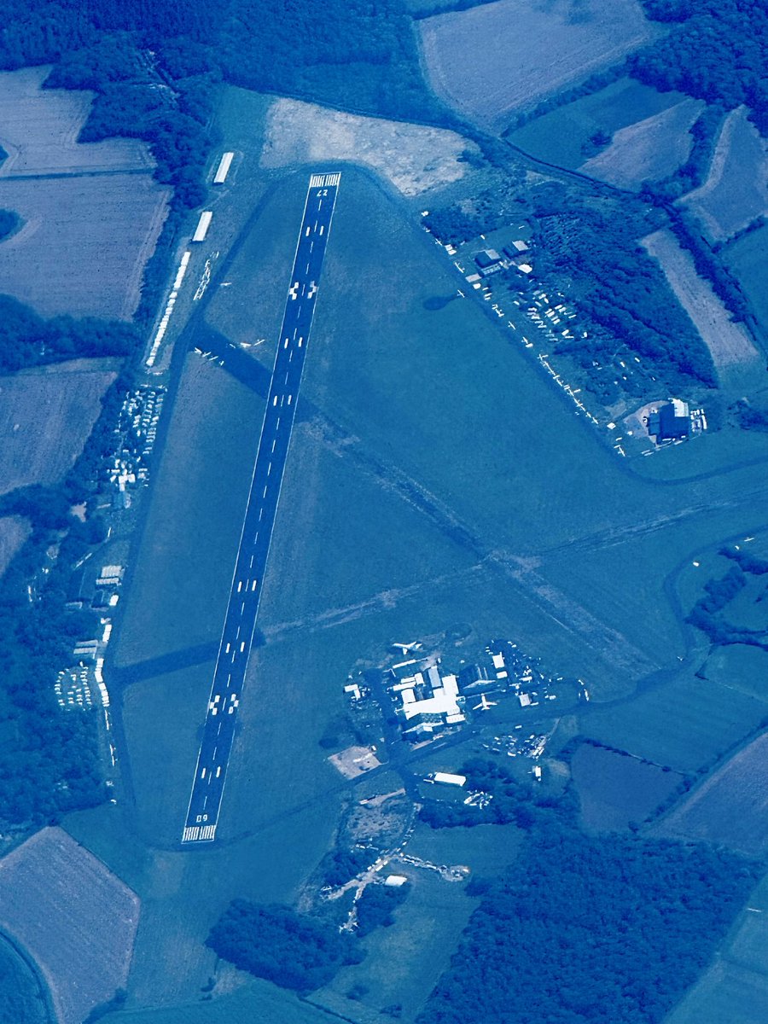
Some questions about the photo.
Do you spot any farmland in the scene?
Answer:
Yes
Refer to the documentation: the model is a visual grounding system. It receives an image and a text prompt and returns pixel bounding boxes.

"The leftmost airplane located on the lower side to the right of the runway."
[393,638,423,654]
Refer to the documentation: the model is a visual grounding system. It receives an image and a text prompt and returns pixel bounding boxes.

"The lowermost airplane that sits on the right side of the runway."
[471,693,497,709]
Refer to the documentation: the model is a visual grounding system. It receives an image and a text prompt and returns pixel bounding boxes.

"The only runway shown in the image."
[181,170,342,844]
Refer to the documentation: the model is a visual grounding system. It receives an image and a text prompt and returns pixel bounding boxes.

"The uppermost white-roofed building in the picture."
[214,153,233,185]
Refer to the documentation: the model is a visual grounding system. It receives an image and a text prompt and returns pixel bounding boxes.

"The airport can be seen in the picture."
[58,86,768,898]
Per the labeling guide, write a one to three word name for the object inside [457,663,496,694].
hangar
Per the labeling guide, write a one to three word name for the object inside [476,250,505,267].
building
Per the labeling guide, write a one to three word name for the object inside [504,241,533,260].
building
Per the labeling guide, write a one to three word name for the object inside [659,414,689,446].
hangar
